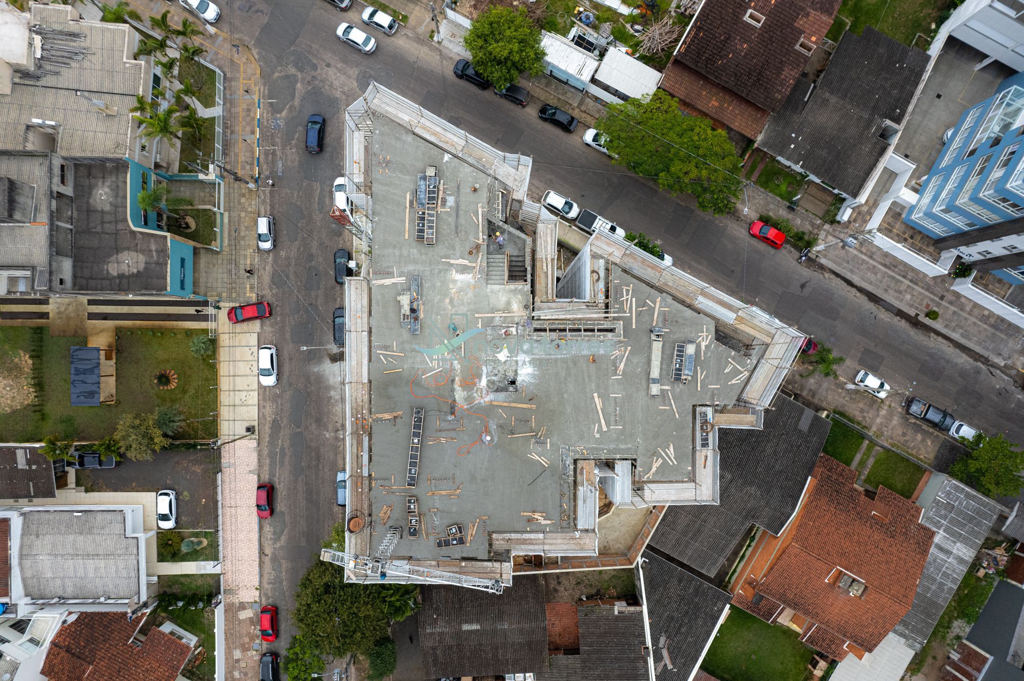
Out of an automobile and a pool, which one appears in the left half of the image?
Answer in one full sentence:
The one visible in the left half of the image is an automobile.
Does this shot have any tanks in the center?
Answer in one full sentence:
No, looking in the center, there is no tank.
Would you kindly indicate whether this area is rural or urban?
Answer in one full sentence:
The land in this view is best described as urban.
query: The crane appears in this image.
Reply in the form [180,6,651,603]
[318,524,504,599]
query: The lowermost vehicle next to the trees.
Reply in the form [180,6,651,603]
[258,654,278,681]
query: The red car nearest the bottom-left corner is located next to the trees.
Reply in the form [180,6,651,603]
[256,606,277,646]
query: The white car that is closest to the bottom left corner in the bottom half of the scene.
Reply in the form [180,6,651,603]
[151,491,174,532]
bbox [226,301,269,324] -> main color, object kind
red car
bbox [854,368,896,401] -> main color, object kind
white car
